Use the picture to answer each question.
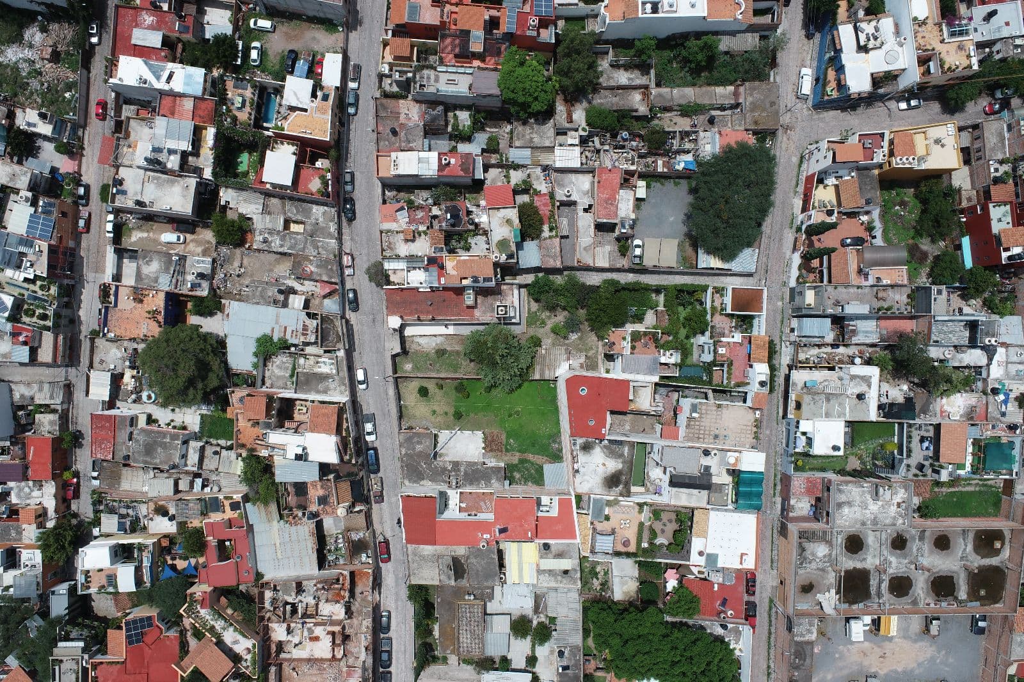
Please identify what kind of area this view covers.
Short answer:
residential area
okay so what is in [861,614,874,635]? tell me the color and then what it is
white vehicle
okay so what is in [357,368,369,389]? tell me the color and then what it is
white vehicle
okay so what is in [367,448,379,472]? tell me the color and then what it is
blue vehicle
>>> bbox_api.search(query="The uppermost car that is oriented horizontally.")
[250,18,276,32]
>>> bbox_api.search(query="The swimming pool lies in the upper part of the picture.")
[260,88,279,127]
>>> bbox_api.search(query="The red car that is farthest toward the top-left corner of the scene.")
[94,99,108,121]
